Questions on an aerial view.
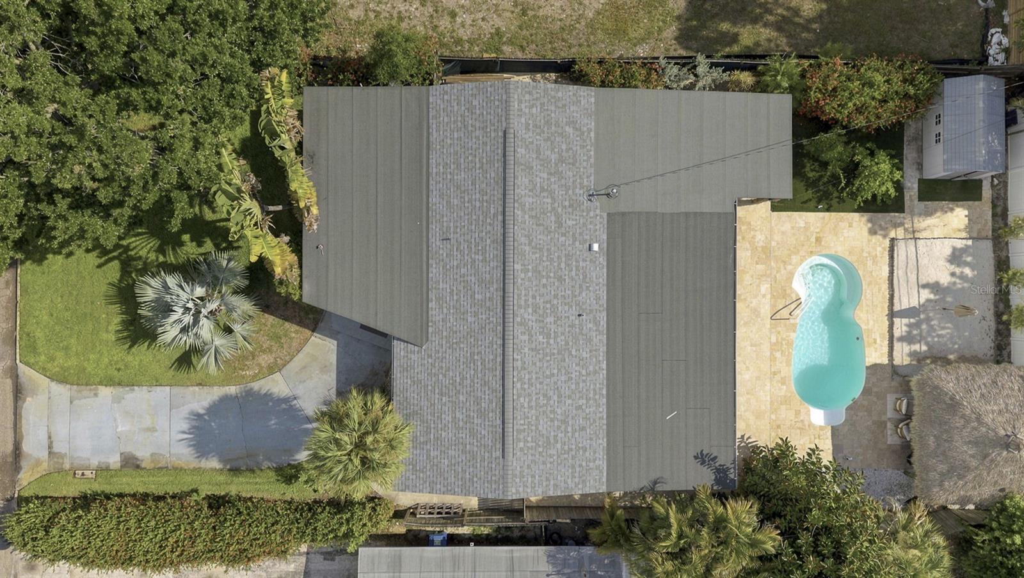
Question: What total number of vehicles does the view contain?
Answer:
0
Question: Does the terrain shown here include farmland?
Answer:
No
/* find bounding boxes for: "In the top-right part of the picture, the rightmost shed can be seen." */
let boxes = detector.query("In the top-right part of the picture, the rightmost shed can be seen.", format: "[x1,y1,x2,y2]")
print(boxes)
[924,77,1004,179]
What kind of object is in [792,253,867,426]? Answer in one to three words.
swimming pool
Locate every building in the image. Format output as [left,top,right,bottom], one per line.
[911,366,1024,508]
[924,77,1004,179]
[302,80,792,499]
[357,536,627,578]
